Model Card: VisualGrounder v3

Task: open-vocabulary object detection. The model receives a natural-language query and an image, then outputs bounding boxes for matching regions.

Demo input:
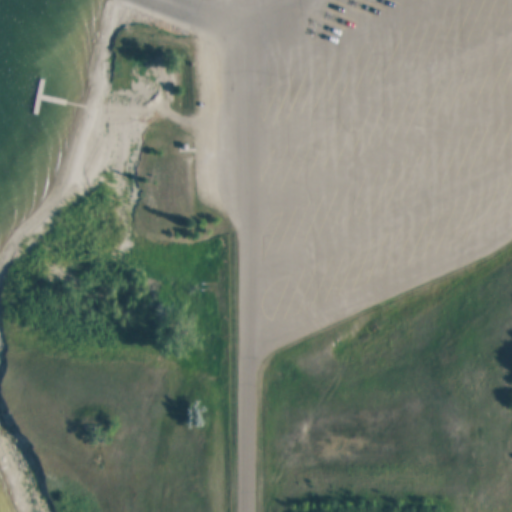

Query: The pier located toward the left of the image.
[34,80,91,116]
